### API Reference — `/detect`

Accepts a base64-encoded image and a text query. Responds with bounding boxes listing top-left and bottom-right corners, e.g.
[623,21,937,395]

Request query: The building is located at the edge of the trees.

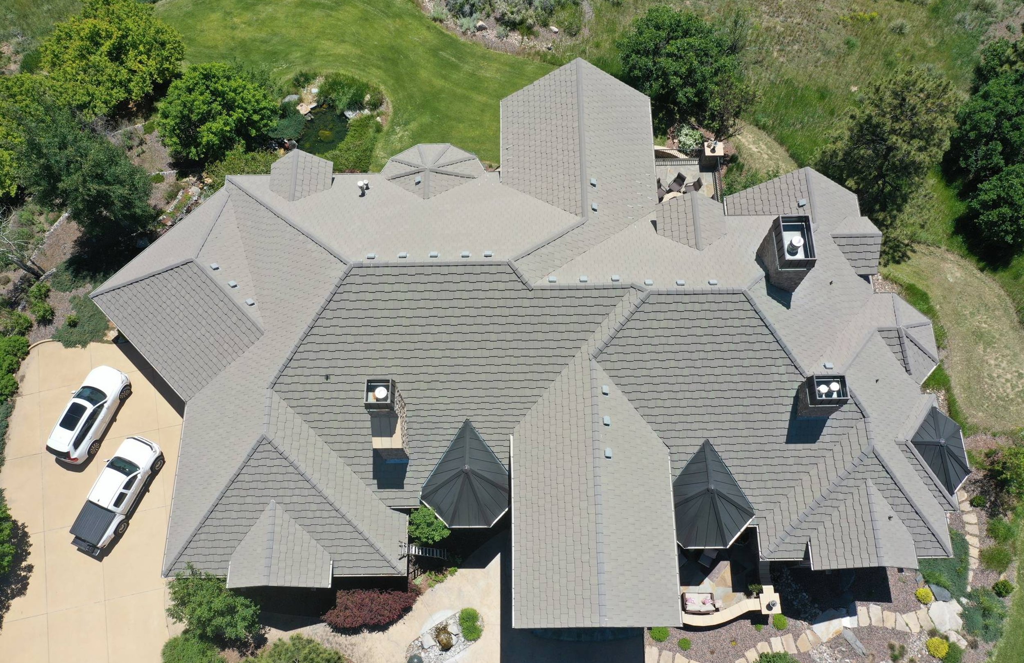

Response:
[87,56,974,628]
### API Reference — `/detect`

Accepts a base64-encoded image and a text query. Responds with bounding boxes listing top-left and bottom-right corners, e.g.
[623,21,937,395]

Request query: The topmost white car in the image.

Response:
[43,366,131,466]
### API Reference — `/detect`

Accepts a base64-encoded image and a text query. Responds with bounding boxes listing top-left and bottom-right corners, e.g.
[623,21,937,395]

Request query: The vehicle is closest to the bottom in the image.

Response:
[69,433,166,555]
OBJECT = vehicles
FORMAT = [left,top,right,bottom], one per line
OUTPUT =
[43,366,131,466]
[69,433,166,555]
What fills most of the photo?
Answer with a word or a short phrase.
buildings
